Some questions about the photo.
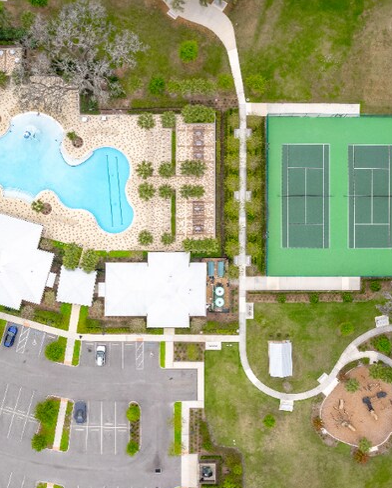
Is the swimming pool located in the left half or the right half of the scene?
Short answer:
left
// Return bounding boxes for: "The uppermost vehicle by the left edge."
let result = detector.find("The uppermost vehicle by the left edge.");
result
[4,326,18,348]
